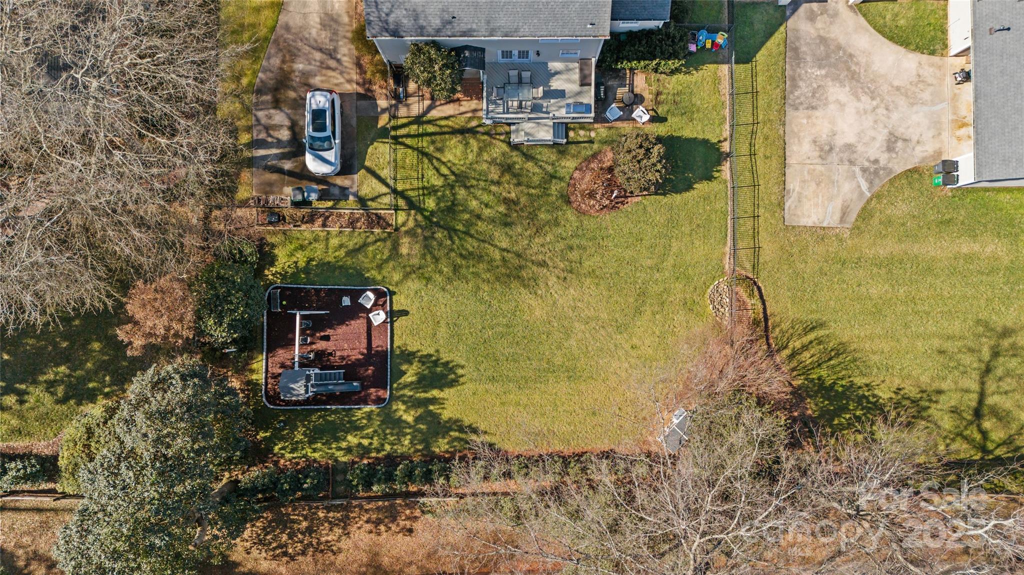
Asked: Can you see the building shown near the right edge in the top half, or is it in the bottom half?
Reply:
top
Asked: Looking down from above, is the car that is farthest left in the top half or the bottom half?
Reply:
top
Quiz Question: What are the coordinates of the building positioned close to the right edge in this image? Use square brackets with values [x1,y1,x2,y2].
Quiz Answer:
[940,0,1024,188]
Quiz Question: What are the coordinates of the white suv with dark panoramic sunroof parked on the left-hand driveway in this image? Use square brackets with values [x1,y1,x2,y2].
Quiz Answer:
[300,89,344,178]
